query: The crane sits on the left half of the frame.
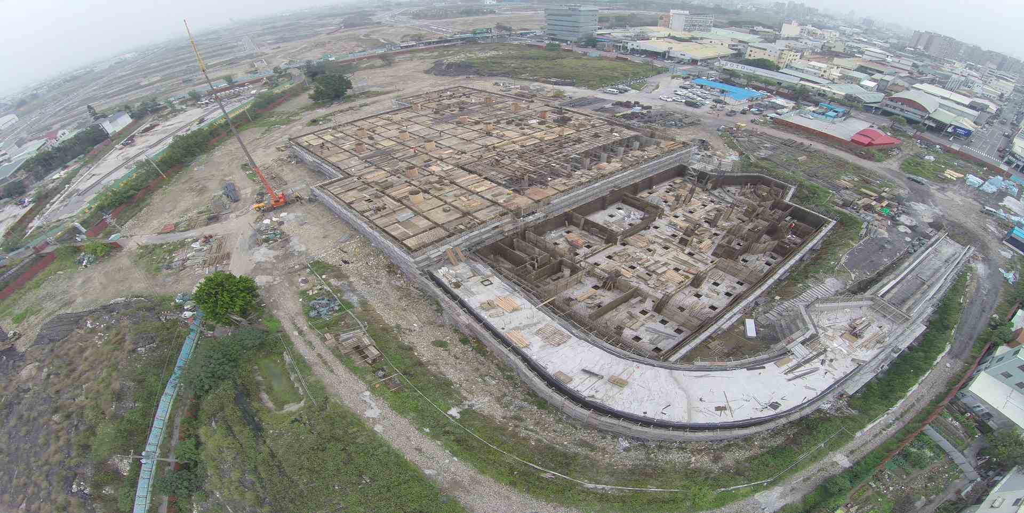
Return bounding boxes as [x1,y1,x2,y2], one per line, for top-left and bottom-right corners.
[183,19,291,211]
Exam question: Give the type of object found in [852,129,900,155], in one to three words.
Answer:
building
